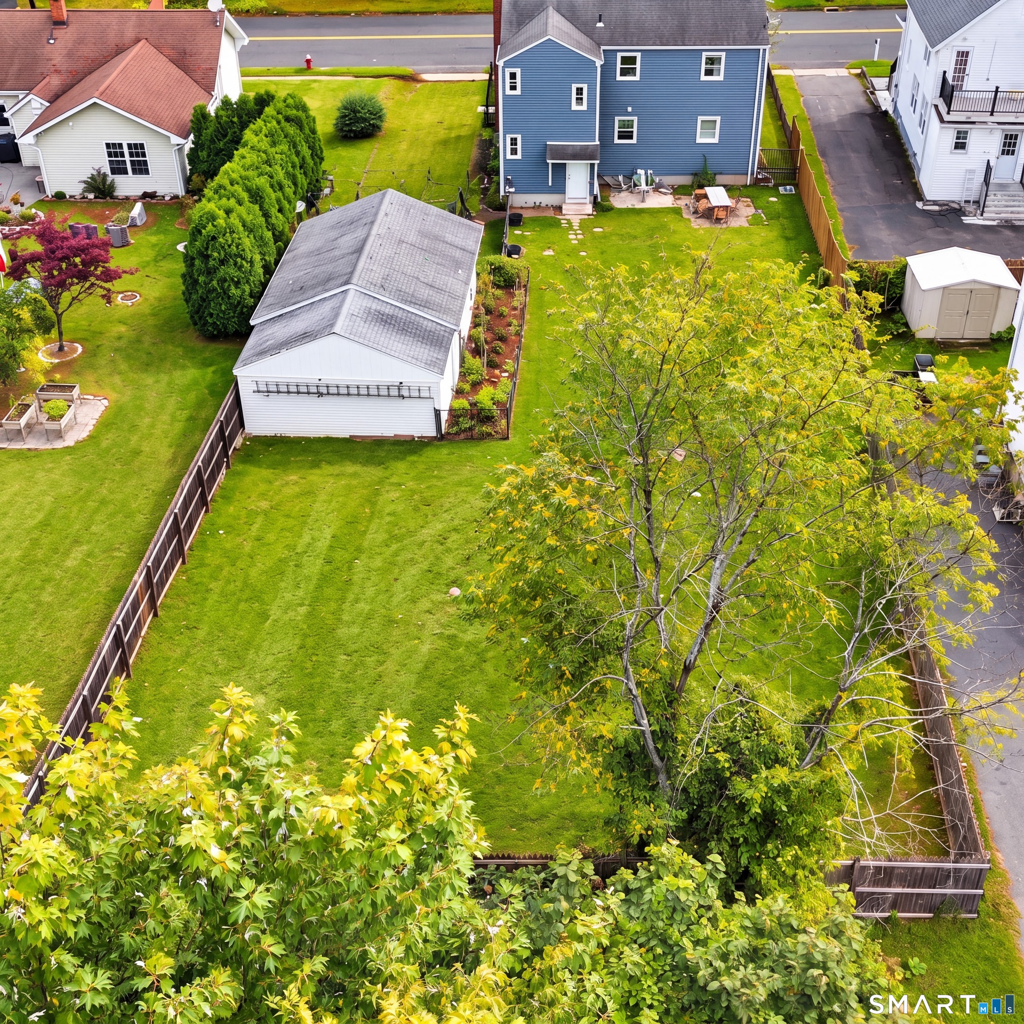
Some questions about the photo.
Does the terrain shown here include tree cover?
Yes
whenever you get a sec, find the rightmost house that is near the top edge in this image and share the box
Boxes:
[871,0,1024,219]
